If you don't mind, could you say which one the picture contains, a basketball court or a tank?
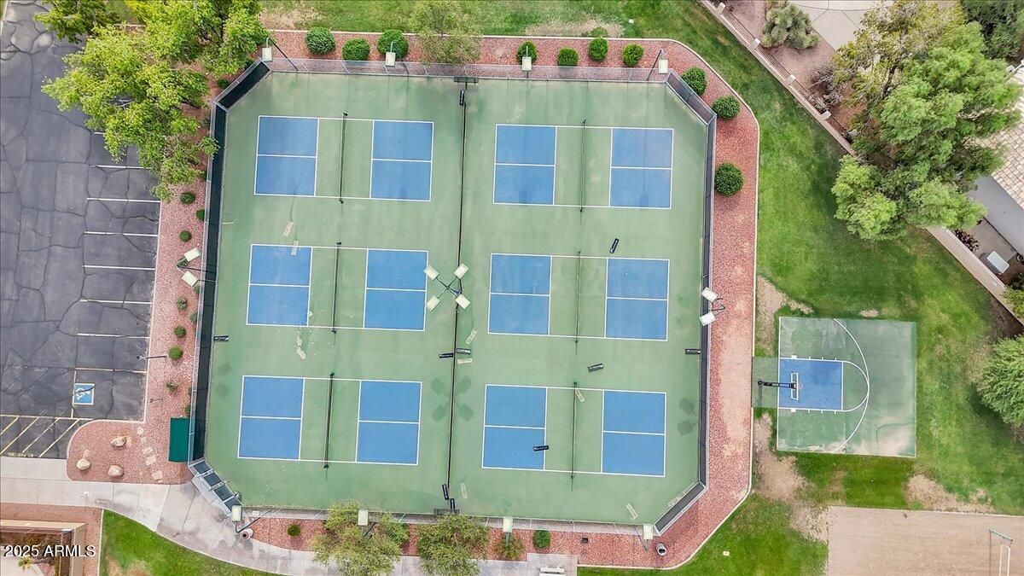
basketball court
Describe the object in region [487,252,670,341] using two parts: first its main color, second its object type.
blue sports court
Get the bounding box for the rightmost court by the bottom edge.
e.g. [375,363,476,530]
[828,506,1024,576]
